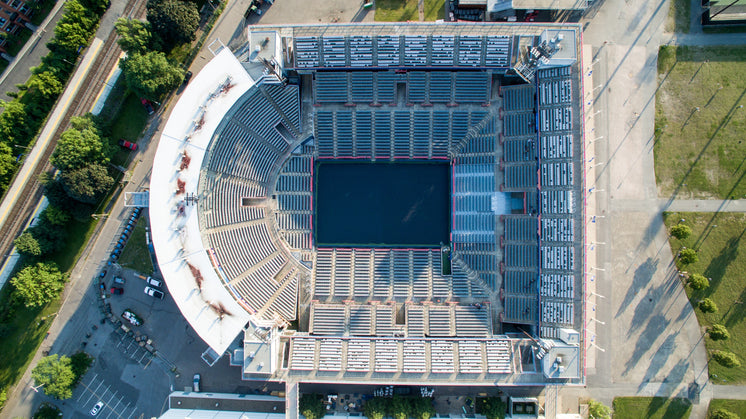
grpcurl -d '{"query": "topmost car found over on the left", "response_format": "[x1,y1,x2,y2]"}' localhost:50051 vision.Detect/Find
[182,67,195,82]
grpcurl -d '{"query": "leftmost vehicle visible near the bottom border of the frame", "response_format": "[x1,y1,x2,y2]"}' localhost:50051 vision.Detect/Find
[90,400,105,415]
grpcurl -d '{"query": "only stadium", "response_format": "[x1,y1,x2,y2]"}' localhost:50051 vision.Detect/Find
[125,23,584,383]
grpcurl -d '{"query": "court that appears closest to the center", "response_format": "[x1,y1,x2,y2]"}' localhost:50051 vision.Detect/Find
[313,159,452,249]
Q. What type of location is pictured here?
sports ground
